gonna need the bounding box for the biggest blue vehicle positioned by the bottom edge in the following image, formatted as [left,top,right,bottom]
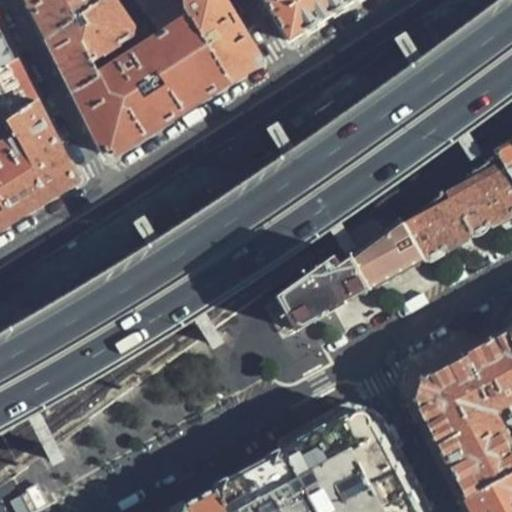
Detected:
[115,488,146,511]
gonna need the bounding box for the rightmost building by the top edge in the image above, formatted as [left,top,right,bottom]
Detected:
[266,0,362,42]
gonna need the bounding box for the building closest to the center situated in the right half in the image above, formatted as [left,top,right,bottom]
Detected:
[278,255,366,326]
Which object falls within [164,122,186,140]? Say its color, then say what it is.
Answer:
white vehicle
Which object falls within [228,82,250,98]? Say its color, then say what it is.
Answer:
white car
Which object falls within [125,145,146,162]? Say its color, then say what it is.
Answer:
white car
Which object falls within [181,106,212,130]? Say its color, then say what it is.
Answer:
white vehicle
